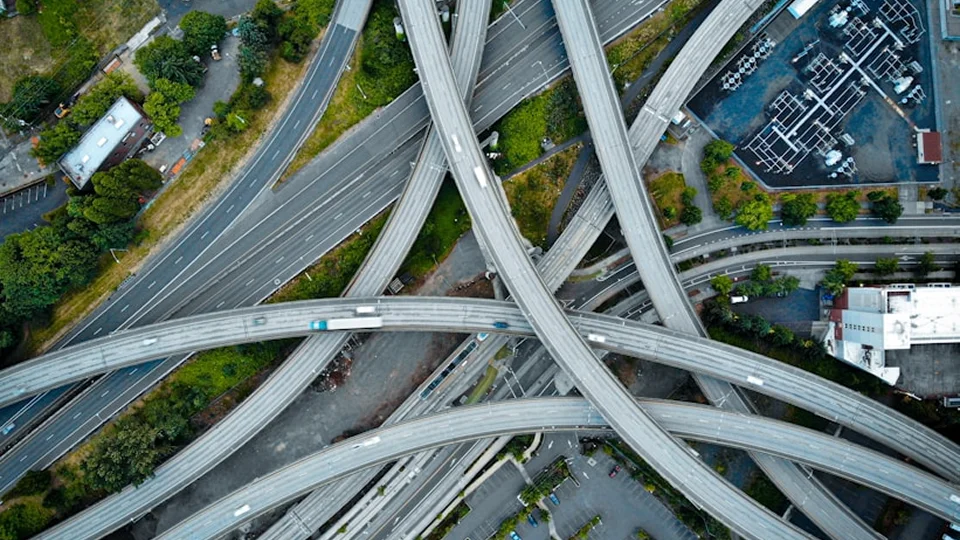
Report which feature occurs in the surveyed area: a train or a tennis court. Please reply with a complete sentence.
The image shows a train.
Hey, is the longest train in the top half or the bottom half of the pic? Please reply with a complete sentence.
You can find the longest train in the bottom half.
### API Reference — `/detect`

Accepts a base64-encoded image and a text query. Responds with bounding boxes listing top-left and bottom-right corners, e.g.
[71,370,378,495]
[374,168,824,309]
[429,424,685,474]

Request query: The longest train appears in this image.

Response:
[418,338,480,398]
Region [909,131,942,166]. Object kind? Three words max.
shed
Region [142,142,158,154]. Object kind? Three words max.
vehicle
